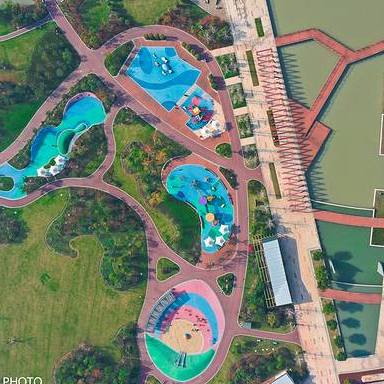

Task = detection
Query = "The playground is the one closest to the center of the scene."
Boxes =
[166,164,235,254]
